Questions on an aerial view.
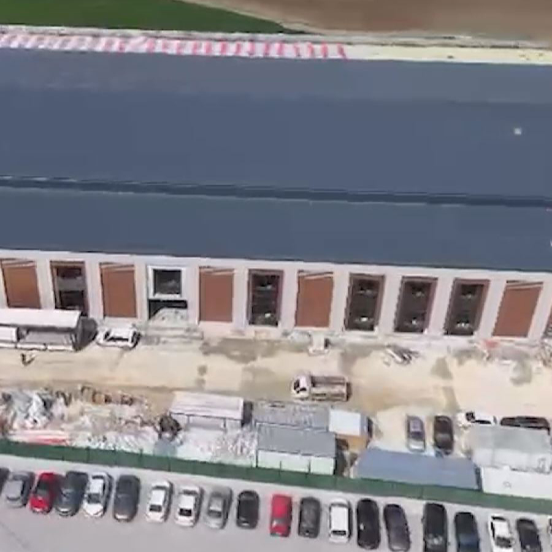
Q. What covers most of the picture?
buildings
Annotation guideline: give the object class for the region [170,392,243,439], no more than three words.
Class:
shed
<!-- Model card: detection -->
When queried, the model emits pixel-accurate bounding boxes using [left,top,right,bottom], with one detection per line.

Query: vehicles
[417,499,453,552]
[504,412,552,436]
[1,467,37,513]
[174,483,202,529]
[267,489,293,543]
[512,513,546,552]
[202,481,231,534]
[55,469,87,520]
[451,407,507,430]
[327,494,354,549]
[28,469,63,515]
[353,496,383,552]
[109,471,143,524]
[430,414,457,454]
[97,327,140,350]
[144,480,174,526]
[451,508,483,552]
[82,469,113,520]
[233,486,261,534]
[404,412,429,452]
[383,501,412,552]
[485,511,519,552]
[297,496,322,543]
